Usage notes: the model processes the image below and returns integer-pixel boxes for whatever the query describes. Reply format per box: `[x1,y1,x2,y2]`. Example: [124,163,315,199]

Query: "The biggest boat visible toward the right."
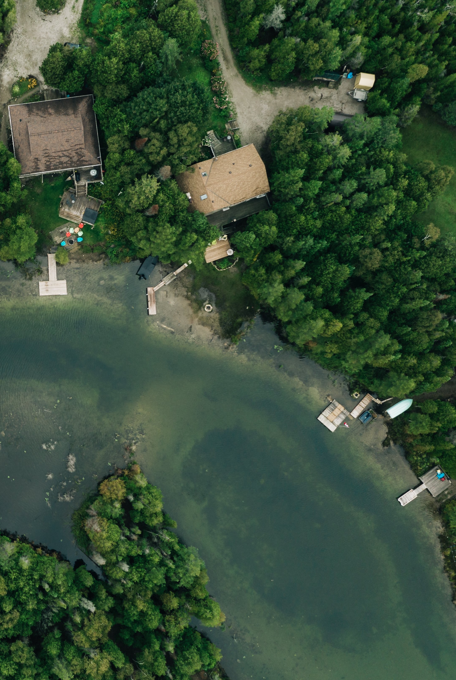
[384,399,412,418]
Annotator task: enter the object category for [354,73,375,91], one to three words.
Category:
tent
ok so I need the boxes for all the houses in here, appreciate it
[8,90,104,226]
[174,130,273,234]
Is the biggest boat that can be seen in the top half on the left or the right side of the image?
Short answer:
left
